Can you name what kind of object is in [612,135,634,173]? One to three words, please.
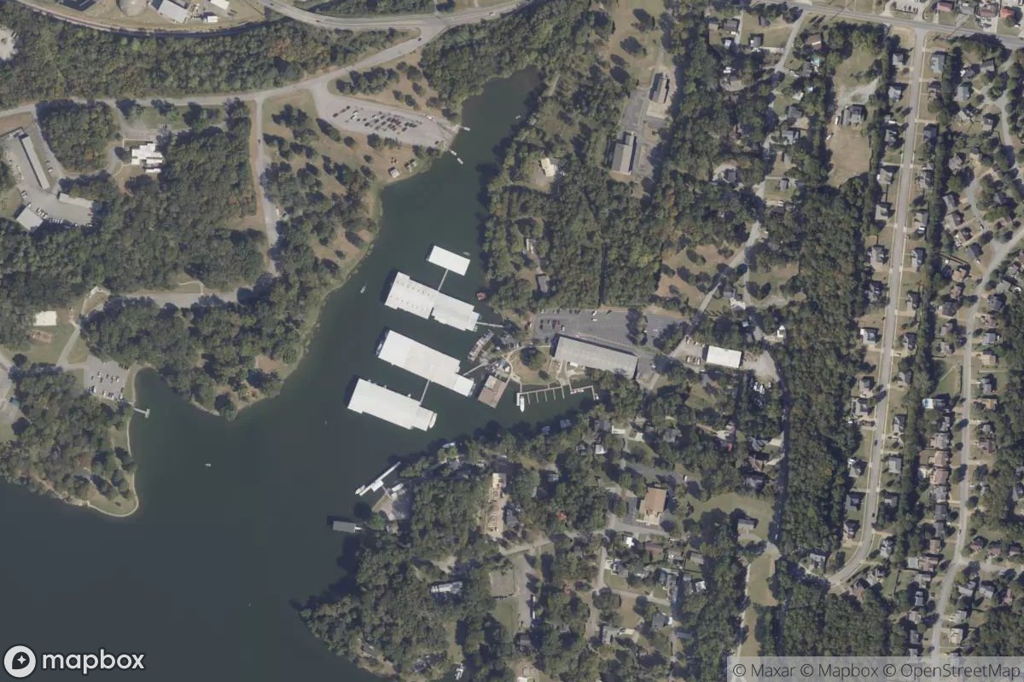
building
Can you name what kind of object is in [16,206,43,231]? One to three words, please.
shed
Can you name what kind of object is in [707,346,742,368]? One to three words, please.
building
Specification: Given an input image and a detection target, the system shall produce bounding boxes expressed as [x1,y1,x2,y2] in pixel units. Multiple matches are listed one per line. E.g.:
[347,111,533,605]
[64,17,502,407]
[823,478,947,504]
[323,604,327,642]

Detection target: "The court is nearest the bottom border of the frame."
[491,571,514,598]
